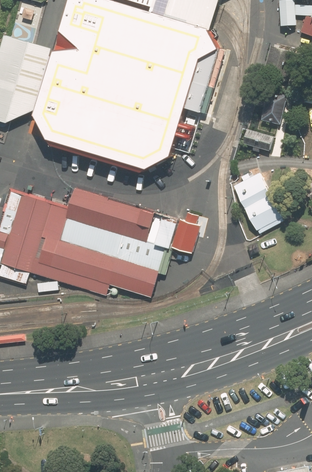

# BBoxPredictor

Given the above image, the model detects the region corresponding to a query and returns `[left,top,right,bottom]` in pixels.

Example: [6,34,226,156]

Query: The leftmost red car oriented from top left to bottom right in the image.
[197,398,212,414]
